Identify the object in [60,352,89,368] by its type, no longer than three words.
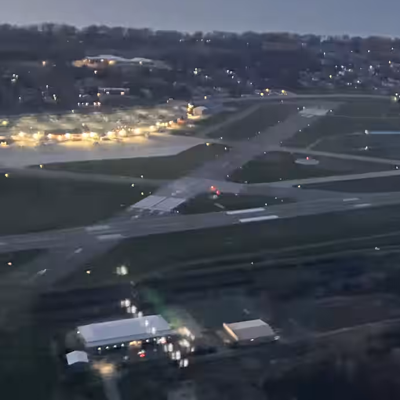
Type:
shed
